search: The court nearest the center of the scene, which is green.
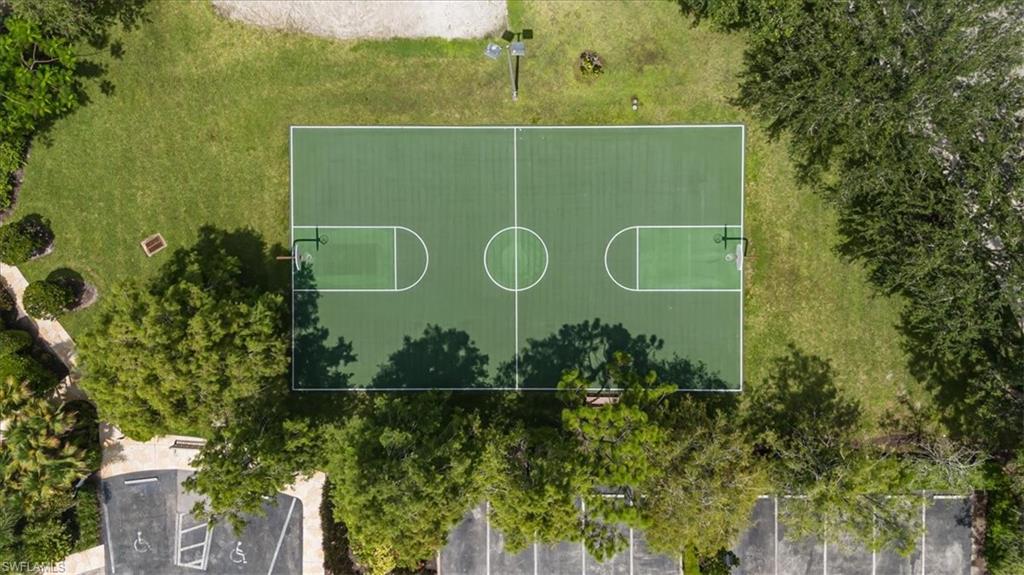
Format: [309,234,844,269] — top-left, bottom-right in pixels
[289,124,745,392]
